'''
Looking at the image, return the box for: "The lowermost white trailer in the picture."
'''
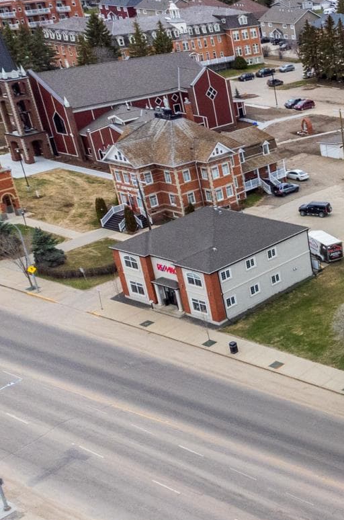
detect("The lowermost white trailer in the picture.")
[302,228,341,259]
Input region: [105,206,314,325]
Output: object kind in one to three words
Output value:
building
